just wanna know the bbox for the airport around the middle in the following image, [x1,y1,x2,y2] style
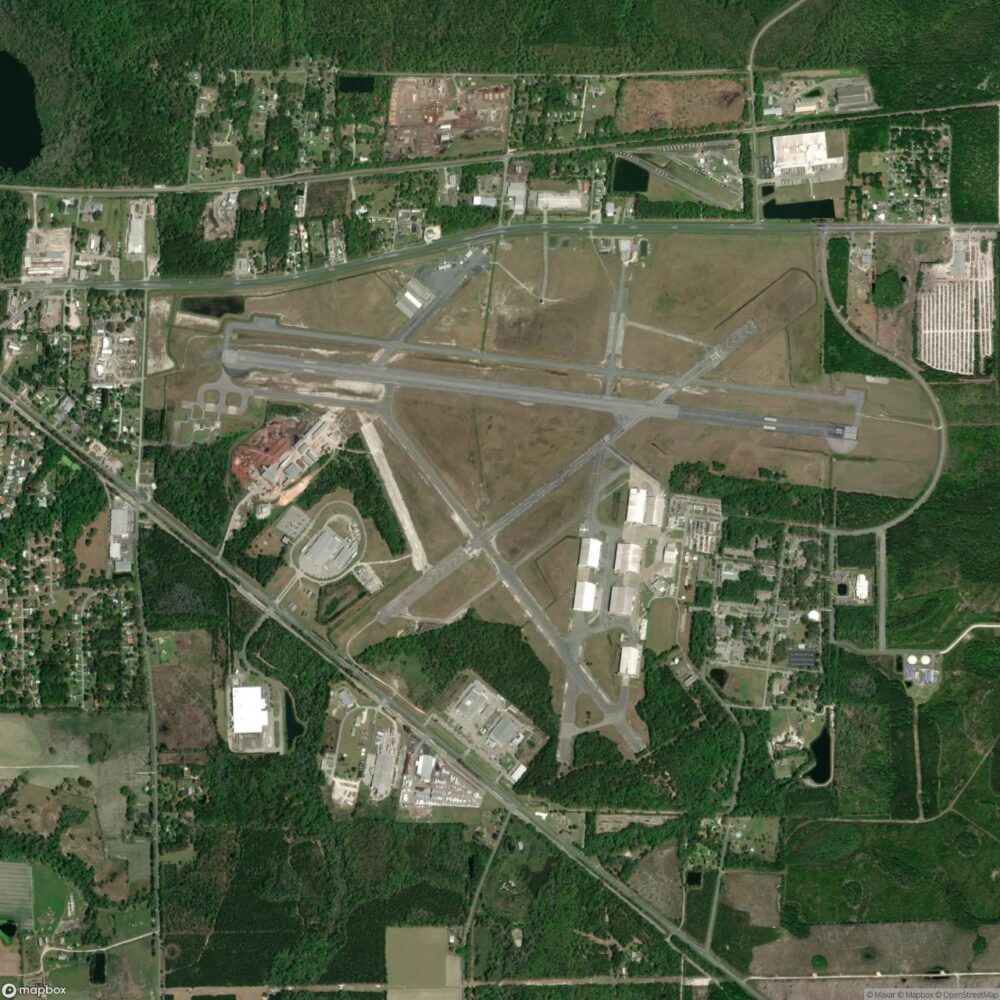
[147,234,940,769]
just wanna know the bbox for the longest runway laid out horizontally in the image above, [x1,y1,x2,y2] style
[238,356,678,416]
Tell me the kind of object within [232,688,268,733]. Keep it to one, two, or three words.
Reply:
building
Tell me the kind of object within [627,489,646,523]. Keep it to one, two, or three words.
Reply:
hangar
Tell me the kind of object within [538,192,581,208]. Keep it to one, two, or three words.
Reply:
building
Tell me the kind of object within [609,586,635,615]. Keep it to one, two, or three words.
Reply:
hangar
